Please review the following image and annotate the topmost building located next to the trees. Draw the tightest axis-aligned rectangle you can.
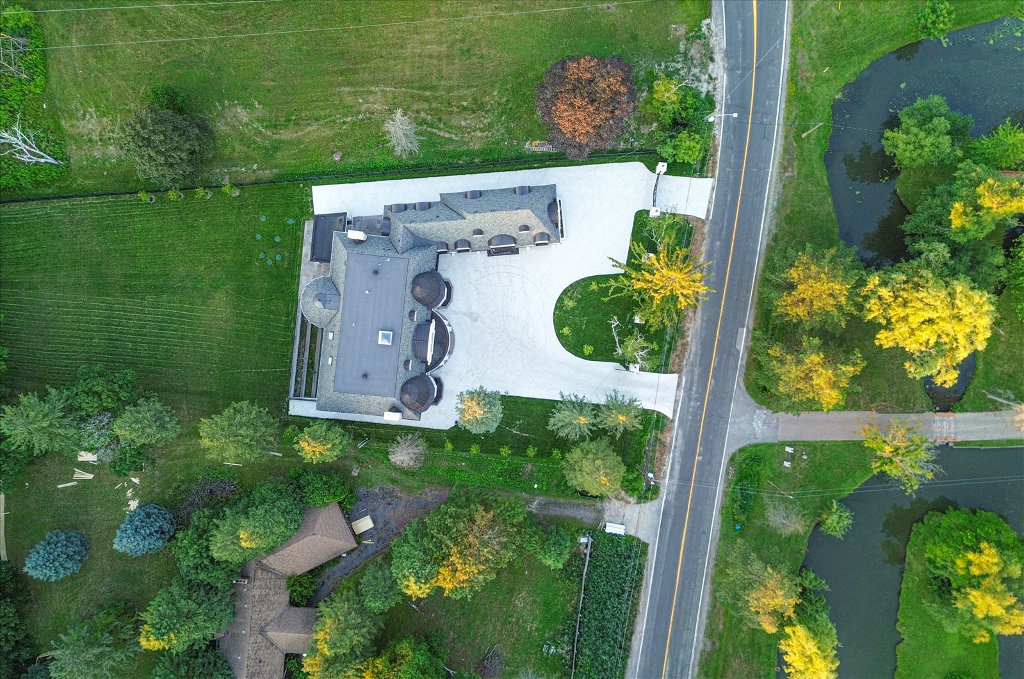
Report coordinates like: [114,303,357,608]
[300,184,567,420]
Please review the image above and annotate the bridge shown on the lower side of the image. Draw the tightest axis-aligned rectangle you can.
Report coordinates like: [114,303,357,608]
[933,413,957,446]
